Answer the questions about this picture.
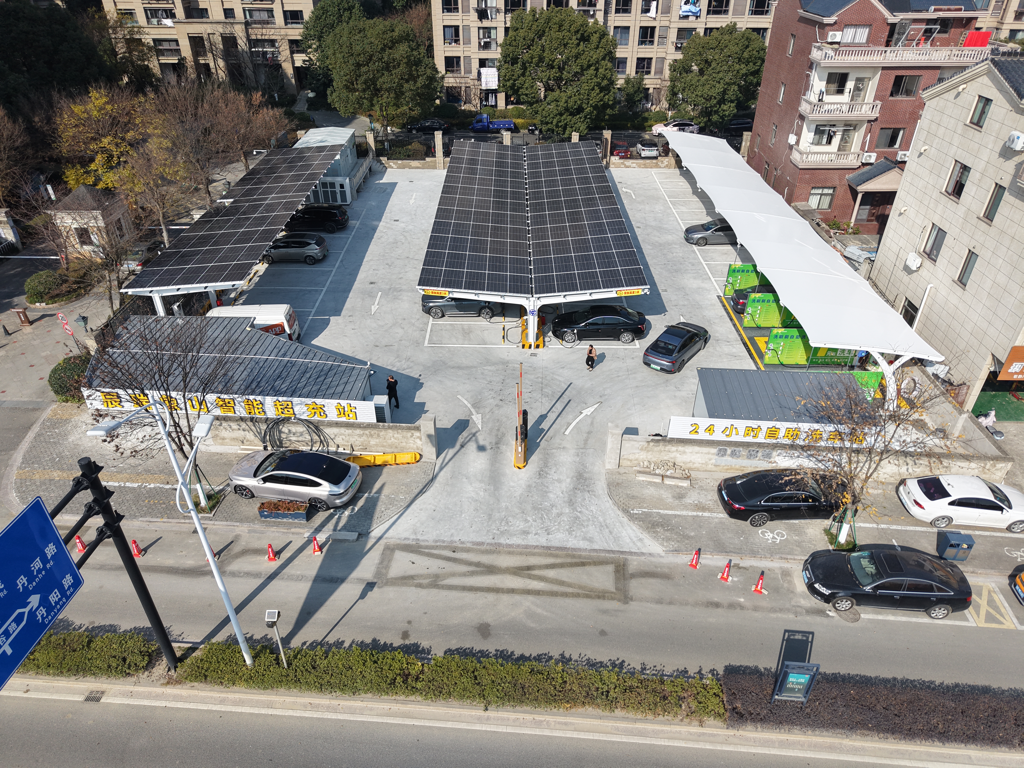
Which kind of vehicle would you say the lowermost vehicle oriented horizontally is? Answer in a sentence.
In the photo, the lowermost vehicle oriented horizontally shows up as a car.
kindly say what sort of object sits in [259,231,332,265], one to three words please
car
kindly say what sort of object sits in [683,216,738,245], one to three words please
car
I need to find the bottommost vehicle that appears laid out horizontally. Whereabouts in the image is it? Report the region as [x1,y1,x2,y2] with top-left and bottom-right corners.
[799,543,979,621]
